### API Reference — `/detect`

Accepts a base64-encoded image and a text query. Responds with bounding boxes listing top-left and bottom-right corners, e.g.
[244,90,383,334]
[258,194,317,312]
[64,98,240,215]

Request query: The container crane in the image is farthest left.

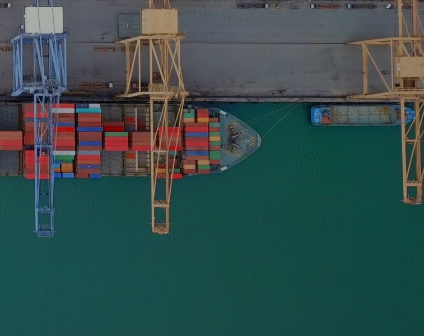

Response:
[6,0,67,239]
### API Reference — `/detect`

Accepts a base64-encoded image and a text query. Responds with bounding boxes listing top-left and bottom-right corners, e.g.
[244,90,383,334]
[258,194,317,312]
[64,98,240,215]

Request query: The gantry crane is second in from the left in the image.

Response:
[113,0,187,234]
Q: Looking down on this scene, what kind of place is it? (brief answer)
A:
port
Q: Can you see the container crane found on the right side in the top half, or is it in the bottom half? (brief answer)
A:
top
